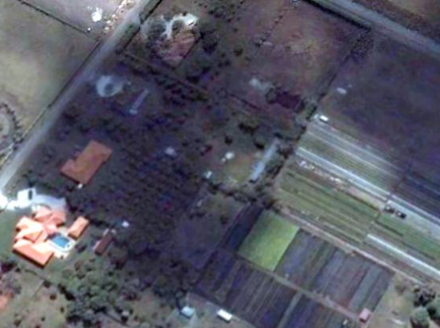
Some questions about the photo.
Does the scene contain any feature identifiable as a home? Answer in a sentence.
Yes, the frame does contain a home.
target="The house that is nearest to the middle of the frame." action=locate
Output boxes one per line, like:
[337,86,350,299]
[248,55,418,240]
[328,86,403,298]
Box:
[275,89,301,110]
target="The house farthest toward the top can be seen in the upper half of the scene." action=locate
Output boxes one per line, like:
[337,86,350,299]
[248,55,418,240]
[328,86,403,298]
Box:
[166,31,197,64]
